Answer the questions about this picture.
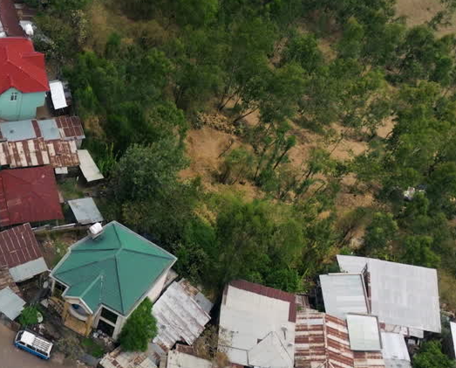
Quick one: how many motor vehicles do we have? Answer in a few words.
one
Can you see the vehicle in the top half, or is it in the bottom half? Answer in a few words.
bottom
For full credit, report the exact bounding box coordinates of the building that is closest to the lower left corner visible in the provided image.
[0,287,26,330]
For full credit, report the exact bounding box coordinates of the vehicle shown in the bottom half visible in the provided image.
[12,331,55,361]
